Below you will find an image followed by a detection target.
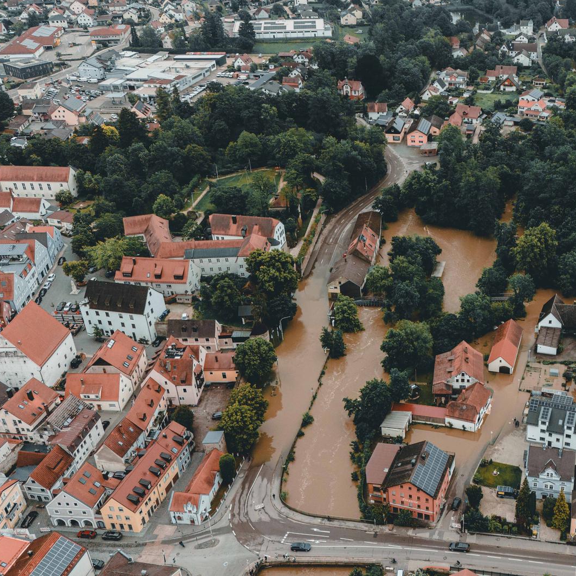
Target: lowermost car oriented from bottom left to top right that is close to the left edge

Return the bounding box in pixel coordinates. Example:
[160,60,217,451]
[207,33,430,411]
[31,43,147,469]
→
[19,510,40,527]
